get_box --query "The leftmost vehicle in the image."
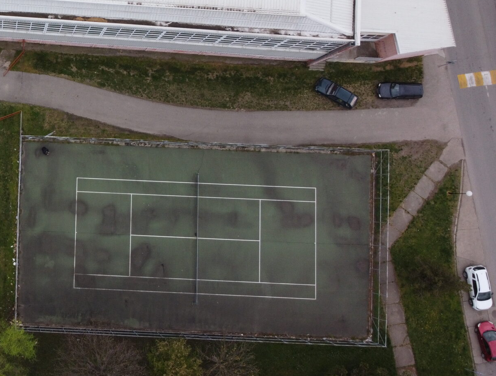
[311,77,360,112]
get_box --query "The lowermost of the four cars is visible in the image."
[472,319,496,367]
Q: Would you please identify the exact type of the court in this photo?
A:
tennis court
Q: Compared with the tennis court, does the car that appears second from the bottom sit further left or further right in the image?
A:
right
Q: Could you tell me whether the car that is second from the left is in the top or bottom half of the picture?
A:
top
